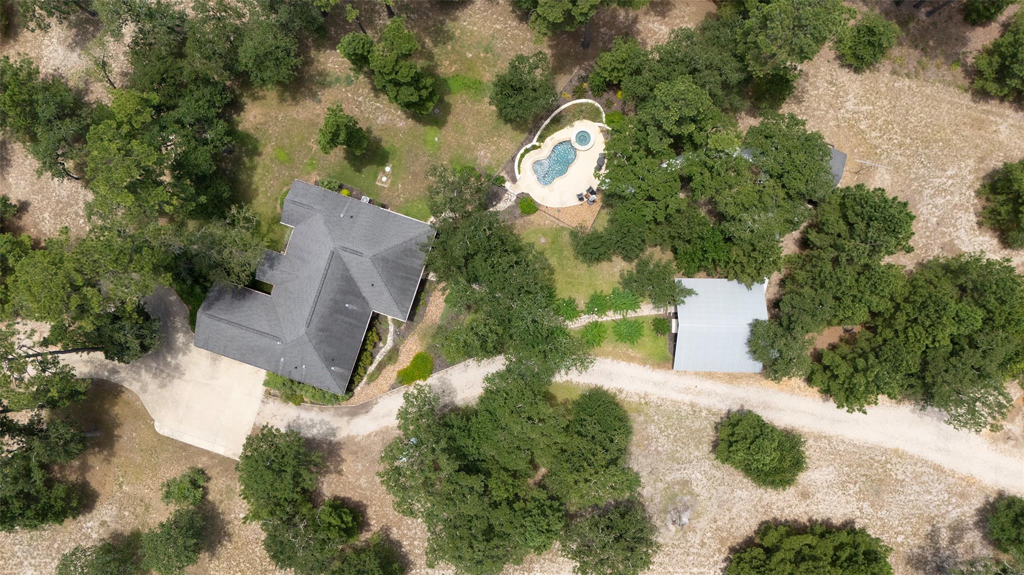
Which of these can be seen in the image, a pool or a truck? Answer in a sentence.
Visible in the photo is a pool.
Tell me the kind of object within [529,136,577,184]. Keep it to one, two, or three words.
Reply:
swimming pool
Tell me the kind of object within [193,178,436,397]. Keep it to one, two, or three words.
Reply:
house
